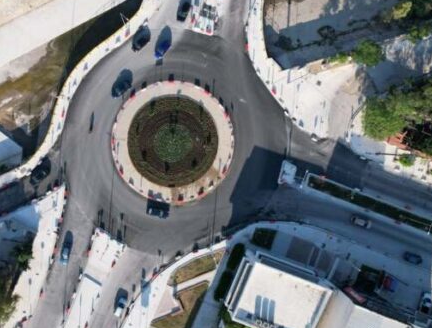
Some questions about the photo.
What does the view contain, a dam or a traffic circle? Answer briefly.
traffic circle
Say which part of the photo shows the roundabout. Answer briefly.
center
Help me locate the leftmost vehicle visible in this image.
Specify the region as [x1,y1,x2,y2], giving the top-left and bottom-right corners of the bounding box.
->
[28,166,47,183]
